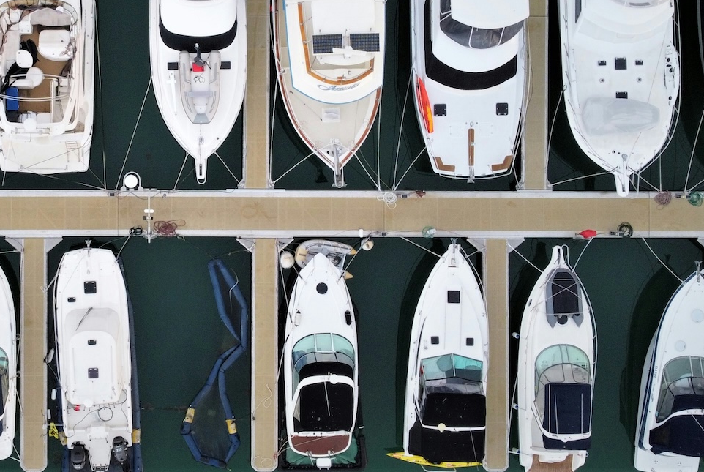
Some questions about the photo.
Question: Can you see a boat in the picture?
Yes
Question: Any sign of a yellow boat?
Yes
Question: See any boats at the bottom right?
Yes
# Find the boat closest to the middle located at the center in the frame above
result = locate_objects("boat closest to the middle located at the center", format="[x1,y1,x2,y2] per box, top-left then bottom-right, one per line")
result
[291,238,358,281]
